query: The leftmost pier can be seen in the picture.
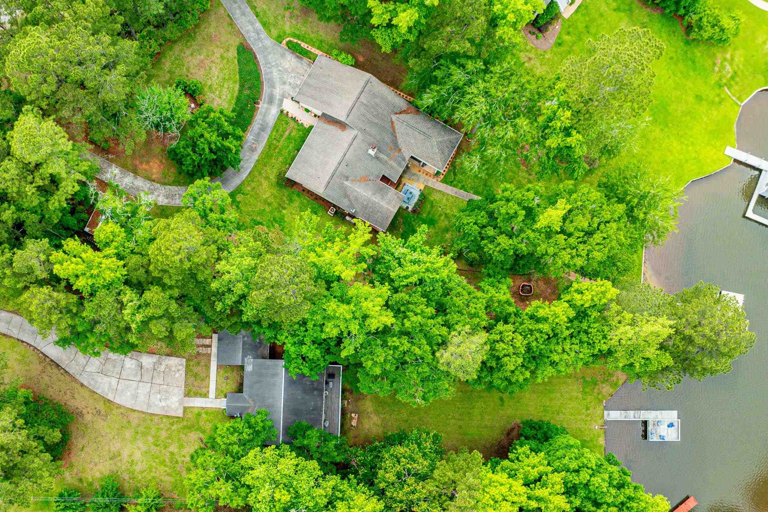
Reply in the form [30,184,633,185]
[605,411,684,442]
